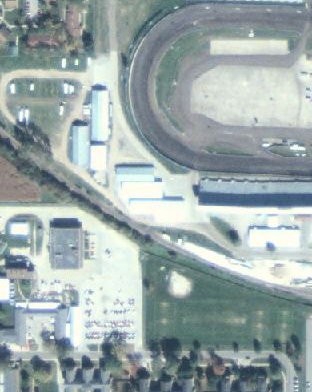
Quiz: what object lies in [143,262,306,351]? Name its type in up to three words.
sports field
